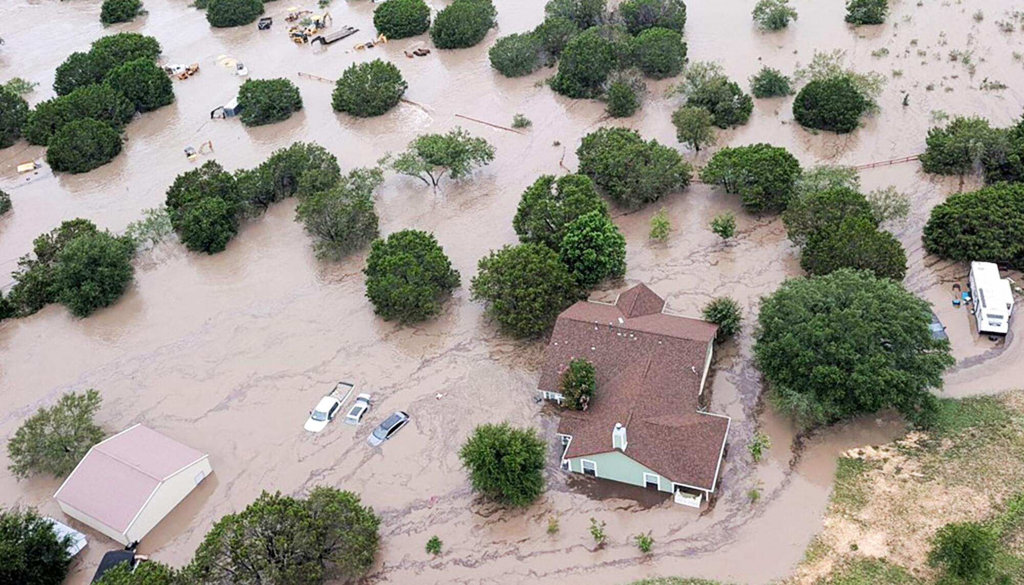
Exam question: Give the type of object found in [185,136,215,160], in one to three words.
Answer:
work vehicle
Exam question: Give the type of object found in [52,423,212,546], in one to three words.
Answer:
building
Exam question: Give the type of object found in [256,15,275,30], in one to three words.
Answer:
vehicle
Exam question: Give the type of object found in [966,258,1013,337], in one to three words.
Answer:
vehicle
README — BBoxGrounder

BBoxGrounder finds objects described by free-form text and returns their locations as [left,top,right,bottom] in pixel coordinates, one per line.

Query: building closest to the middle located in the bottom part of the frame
[538,282,732,504]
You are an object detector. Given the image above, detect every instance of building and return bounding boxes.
[52,423,212,546]
[538,282,732,504]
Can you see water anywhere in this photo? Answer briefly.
Yes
